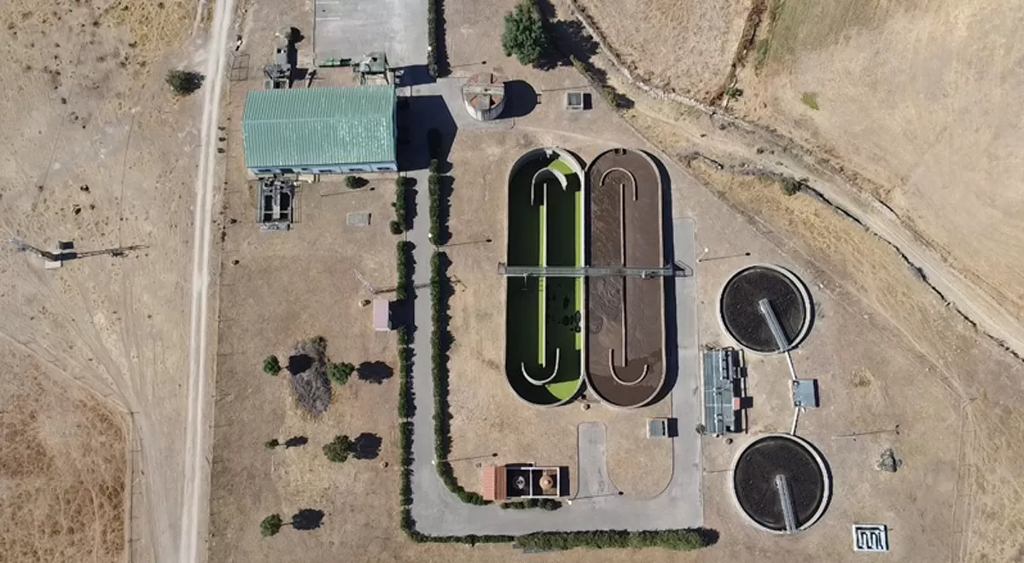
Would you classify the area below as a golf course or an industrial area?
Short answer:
industrial area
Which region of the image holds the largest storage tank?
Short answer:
center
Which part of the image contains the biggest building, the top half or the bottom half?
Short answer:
top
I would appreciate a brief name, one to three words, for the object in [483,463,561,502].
building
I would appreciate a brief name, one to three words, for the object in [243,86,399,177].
building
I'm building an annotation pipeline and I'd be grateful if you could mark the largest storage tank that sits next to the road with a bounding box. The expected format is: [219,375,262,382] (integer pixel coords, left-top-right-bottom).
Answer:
[500,147,685,409]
